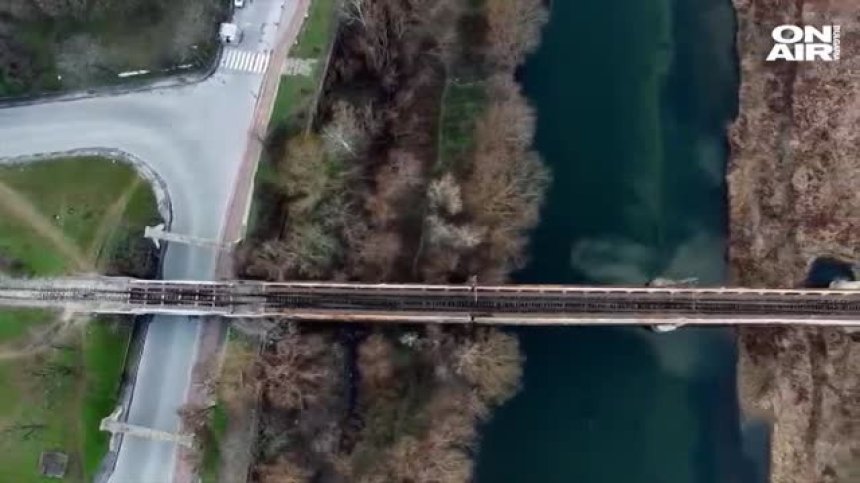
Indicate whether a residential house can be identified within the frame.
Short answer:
No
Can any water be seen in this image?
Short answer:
Yes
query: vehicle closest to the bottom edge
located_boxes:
[218,20,239,49]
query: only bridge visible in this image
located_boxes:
[108,276,860,332]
